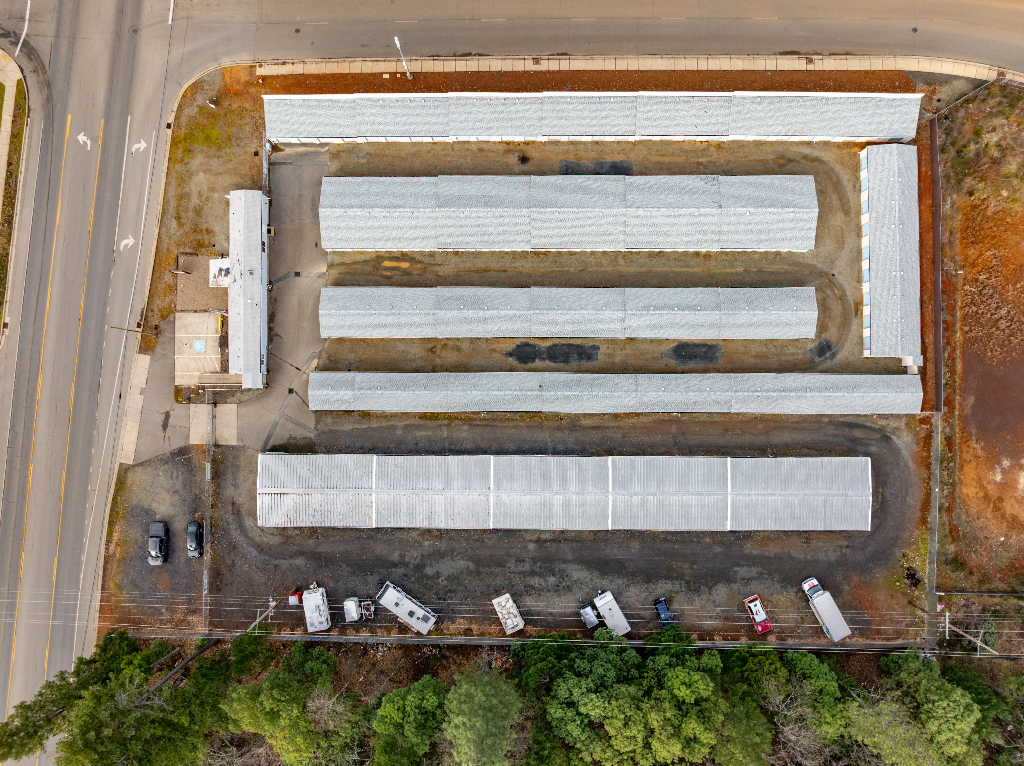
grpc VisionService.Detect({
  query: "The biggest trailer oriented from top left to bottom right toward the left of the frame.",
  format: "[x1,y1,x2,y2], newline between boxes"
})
[376,579,439,635]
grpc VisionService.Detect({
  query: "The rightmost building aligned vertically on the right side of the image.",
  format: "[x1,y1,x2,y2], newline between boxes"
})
[859,143,922,366]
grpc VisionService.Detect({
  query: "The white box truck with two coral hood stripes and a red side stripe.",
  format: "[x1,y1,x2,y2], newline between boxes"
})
[800,576,851,642]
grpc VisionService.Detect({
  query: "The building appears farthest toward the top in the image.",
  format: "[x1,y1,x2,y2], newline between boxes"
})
[262,91,924,145]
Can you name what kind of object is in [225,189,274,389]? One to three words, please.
building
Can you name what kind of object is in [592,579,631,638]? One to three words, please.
trailer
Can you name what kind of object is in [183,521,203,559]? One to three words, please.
car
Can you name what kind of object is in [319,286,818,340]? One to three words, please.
building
